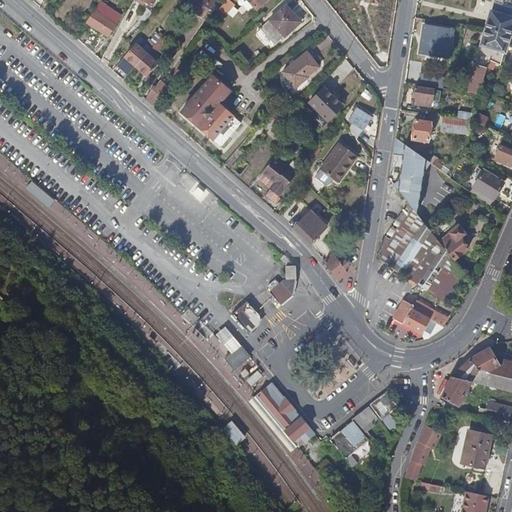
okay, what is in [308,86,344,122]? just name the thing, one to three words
house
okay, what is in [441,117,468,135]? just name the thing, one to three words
house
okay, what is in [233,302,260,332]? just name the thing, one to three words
building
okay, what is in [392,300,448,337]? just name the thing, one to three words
building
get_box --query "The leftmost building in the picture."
[86,2,122,38]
